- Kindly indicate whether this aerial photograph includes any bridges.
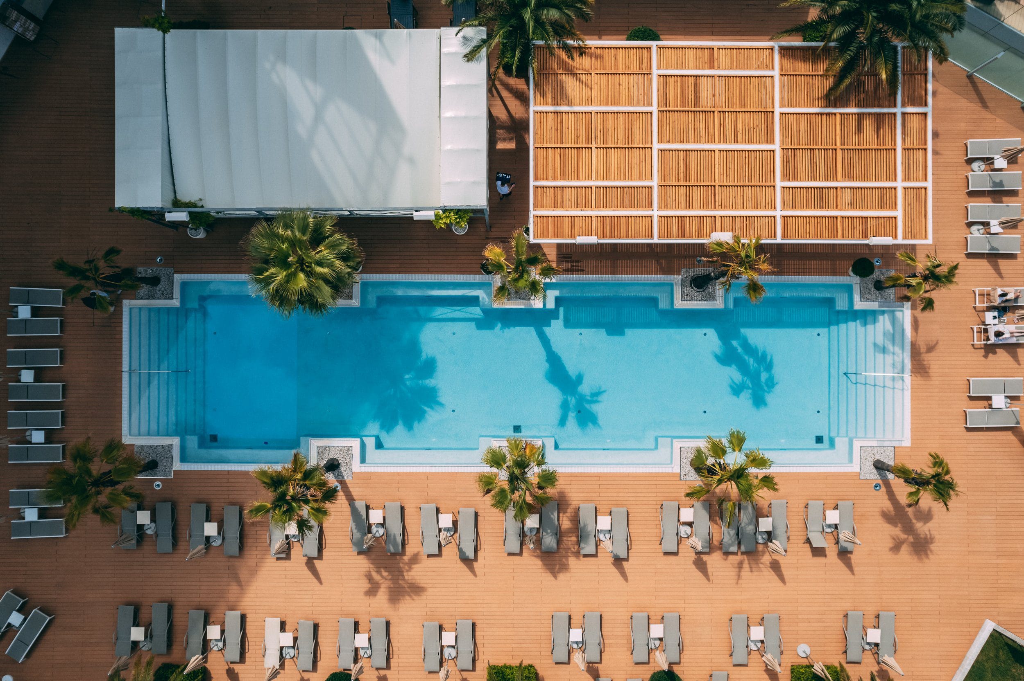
No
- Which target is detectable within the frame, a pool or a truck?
pool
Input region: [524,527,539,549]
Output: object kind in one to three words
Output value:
umbrella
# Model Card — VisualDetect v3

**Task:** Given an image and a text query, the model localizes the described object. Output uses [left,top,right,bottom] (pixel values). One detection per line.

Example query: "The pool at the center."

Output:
[130,281,902,465]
